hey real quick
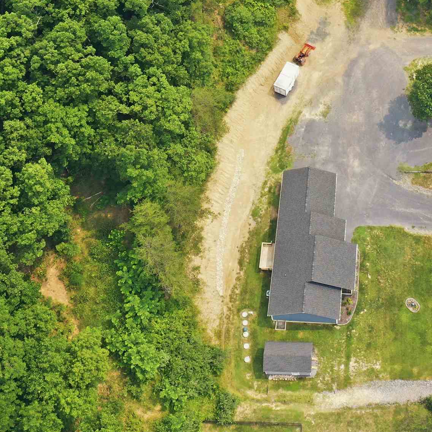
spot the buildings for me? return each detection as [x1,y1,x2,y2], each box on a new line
[263,343,319,376]
[261,168,357,334]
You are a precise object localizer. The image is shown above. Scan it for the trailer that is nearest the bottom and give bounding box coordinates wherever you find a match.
[273,65,298,103]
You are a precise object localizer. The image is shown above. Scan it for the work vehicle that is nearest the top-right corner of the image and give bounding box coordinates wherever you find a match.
[293,48,313,69]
